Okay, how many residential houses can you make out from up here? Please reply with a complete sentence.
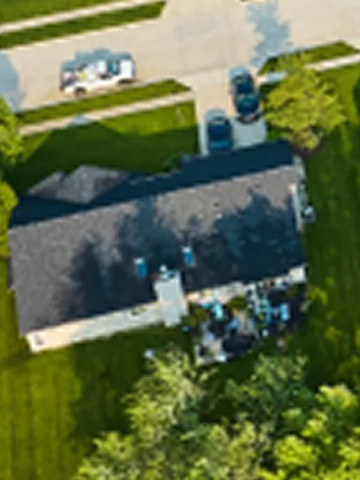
I count 1 residential house.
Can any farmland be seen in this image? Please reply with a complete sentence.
No, the picture contains no farmland.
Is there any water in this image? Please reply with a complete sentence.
No, the picture contains no water.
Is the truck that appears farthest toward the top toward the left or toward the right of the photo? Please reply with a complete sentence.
It is on the left.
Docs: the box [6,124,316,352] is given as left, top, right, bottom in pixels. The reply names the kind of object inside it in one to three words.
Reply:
house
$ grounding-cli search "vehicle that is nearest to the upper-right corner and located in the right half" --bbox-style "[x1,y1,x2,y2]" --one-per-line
[229,70,262,126]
